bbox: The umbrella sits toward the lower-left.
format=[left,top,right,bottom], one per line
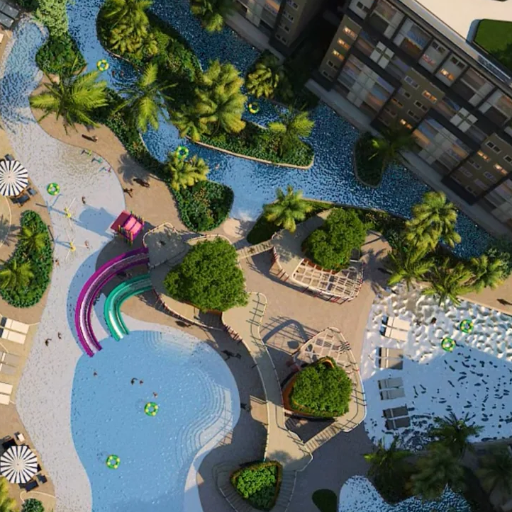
[1,446,39,483]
